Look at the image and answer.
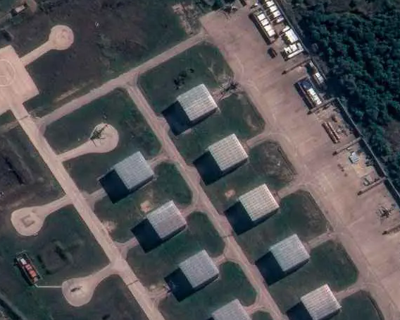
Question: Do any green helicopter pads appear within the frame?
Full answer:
No, there isn't any green helicopter pad down there.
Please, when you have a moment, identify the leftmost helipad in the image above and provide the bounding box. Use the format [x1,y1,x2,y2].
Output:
[0,45,37,114]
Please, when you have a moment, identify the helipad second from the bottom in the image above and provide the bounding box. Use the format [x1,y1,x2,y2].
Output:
[12,194,74,232]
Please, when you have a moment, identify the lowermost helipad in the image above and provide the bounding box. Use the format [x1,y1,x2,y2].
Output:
[64,263,119,303]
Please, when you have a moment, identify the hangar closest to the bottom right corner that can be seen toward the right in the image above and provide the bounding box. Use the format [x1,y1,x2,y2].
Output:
[302,285,340,320]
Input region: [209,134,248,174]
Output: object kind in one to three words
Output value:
hangar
